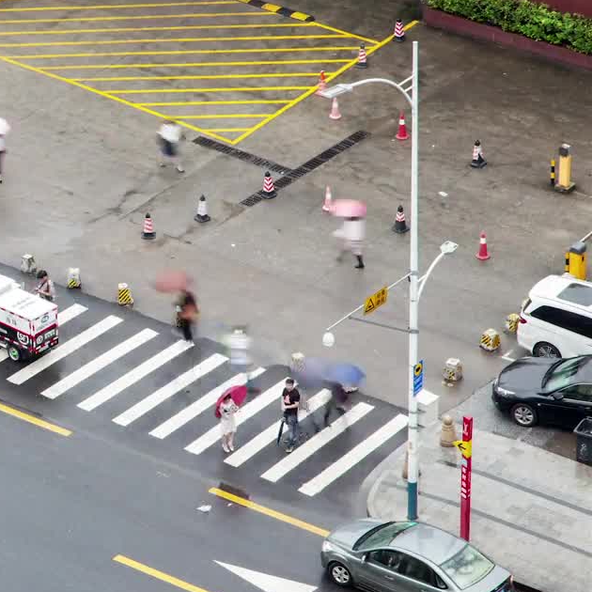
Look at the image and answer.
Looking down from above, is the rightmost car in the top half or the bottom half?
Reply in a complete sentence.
You can find the rightmost car in the bottom half.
